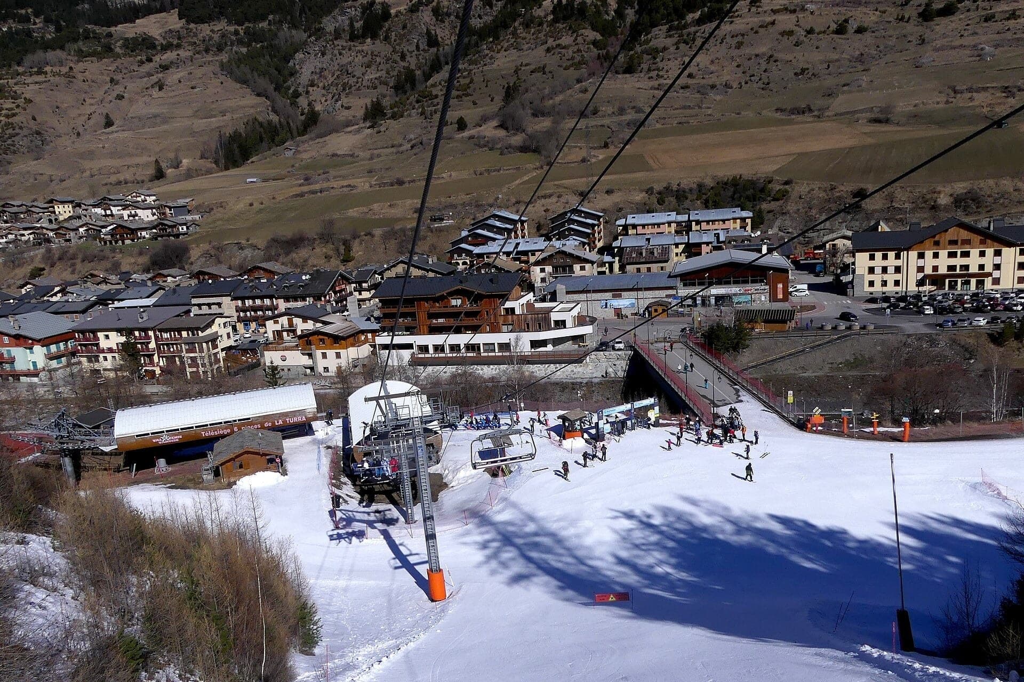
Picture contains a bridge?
Yes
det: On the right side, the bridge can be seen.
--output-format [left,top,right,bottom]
[636,334,799,421]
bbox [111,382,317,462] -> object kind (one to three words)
building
